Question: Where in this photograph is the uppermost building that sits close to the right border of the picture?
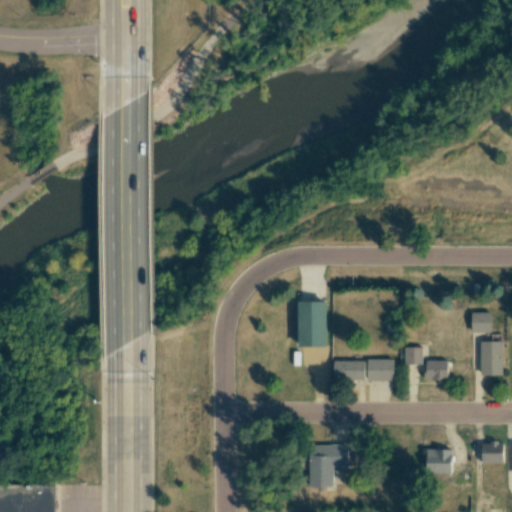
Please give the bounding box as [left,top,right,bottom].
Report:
[472,312,492,334]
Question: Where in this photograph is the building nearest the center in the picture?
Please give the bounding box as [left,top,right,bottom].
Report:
[298,302,328,346]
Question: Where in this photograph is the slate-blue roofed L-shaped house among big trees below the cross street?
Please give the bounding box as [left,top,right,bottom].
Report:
[310,444,342,488]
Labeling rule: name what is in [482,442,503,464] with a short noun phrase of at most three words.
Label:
house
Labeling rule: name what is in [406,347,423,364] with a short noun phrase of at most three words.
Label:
building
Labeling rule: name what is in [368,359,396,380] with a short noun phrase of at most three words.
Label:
house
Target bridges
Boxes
[98,82,158,362]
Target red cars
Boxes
[486,402,500,408]
[131,8,138,24]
